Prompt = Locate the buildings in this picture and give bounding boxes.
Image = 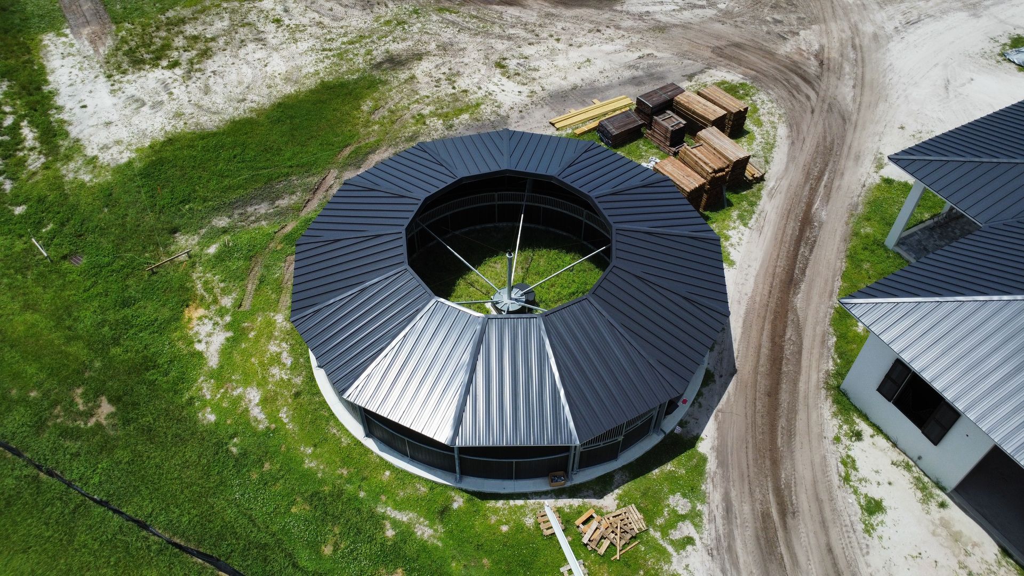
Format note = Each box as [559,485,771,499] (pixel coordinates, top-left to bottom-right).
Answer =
[289,127,731,494]
[837,96,1024,574]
